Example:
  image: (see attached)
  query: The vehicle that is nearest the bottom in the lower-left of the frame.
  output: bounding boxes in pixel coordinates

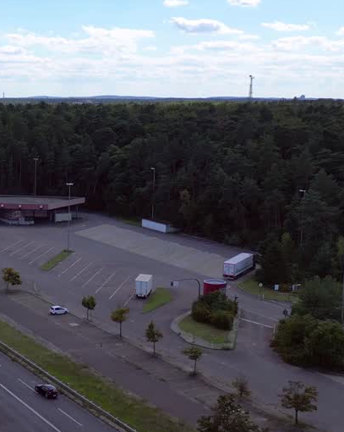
[34,382,60,398]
